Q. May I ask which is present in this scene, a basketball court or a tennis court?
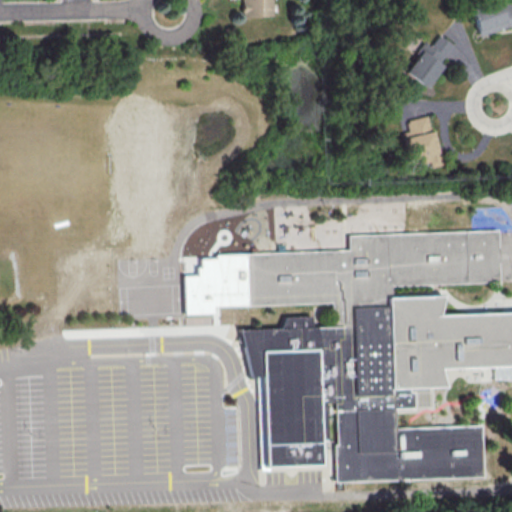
basketball court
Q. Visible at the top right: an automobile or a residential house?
residential house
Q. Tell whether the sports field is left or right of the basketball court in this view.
to the left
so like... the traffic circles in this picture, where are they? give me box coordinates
[466,66,512,135]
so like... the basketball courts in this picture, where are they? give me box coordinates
[118,256,183,319]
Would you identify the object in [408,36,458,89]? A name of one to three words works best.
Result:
house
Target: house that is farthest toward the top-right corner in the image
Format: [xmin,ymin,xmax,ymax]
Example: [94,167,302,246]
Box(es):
[478,4,512,40]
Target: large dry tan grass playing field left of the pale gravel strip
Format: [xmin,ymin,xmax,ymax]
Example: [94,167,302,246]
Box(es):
[0,101,112,298]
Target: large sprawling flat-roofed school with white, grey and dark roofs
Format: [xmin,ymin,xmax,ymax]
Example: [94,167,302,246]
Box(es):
[183,231,512,484]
